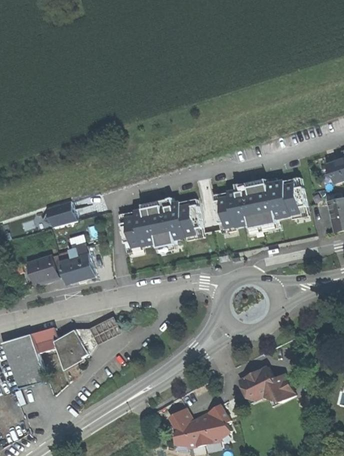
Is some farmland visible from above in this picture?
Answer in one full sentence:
Yes, there is farmland in the image.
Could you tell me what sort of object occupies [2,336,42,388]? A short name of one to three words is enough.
building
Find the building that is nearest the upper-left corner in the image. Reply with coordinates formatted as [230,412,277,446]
[44,199,78,228]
